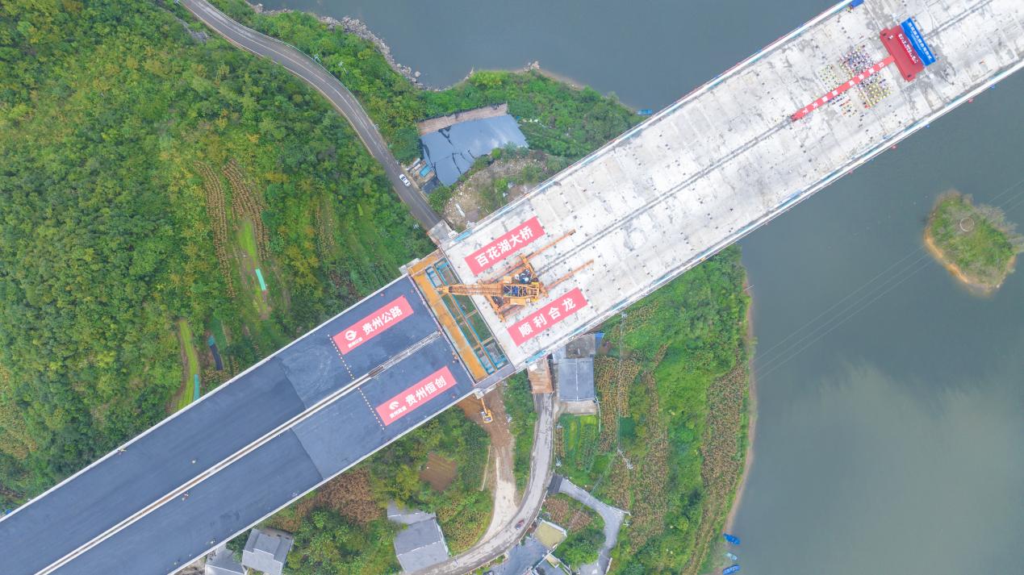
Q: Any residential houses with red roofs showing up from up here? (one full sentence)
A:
No, I find no residential house with a red roof anywhere in the image.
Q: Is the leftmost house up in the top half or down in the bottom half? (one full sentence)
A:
You can find the leftmost house in the bottom half.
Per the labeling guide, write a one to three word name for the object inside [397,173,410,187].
vehicle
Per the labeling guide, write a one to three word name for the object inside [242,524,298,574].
house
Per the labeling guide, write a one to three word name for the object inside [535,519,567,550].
house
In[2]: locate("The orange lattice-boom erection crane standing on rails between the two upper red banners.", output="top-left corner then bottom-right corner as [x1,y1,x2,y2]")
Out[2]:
[430,248,551,322]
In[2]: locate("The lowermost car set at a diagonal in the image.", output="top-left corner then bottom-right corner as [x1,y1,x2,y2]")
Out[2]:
[513,518,526,533]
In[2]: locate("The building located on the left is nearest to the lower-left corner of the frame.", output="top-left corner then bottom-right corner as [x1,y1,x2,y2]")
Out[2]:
[203,542,249,575]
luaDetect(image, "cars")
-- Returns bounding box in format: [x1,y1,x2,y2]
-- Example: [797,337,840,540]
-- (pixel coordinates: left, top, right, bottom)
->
[513,518,526,533]
[397,173,410,187]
